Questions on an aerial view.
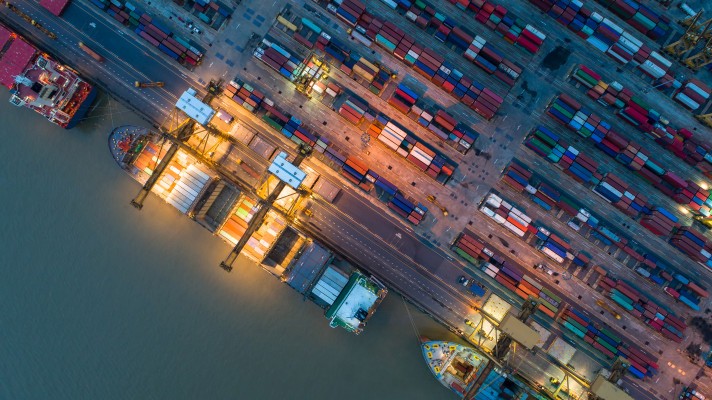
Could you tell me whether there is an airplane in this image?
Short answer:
No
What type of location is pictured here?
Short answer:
port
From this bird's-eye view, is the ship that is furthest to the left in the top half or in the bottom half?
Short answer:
top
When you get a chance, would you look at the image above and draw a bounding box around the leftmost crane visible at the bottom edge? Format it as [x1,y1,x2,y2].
[458,292,544,400]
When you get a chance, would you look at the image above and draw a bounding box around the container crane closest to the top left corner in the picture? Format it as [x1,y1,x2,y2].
[127,77,236,210]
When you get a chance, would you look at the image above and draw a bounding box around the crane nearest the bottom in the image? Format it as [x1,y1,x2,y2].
[534,353,634,400]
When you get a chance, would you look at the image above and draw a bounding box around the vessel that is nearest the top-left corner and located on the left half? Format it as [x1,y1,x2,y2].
[0,20,104,127]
